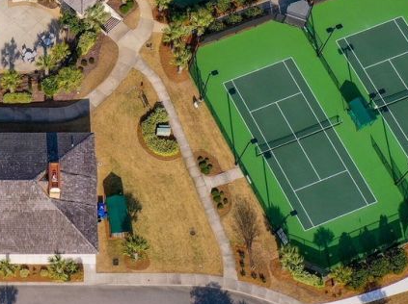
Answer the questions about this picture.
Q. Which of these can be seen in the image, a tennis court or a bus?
tennis court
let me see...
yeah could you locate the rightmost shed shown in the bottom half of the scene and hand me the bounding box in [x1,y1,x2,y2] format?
[101,194,130,246]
